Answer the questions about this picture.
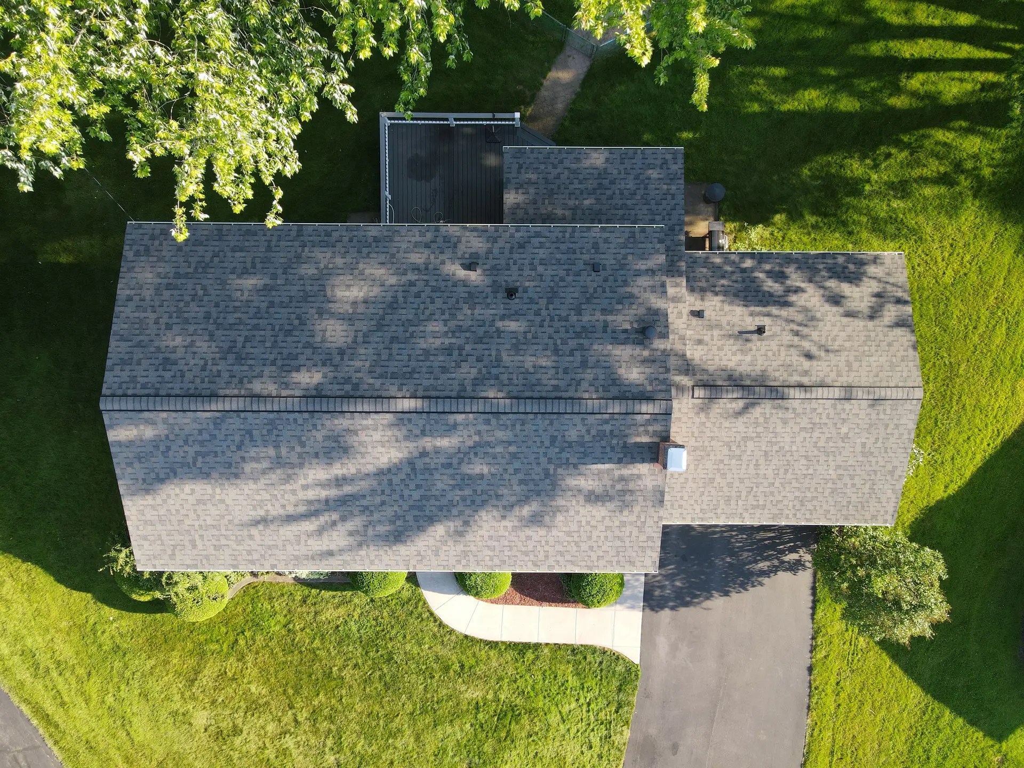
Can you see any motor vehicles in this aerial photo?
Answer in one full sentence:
No, there's no motor vehicle here.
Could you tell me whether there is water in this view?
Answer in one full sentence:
No, the picture contains no water.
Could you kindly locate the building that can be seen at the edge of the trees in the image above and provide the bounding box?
[99,147,924,574]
